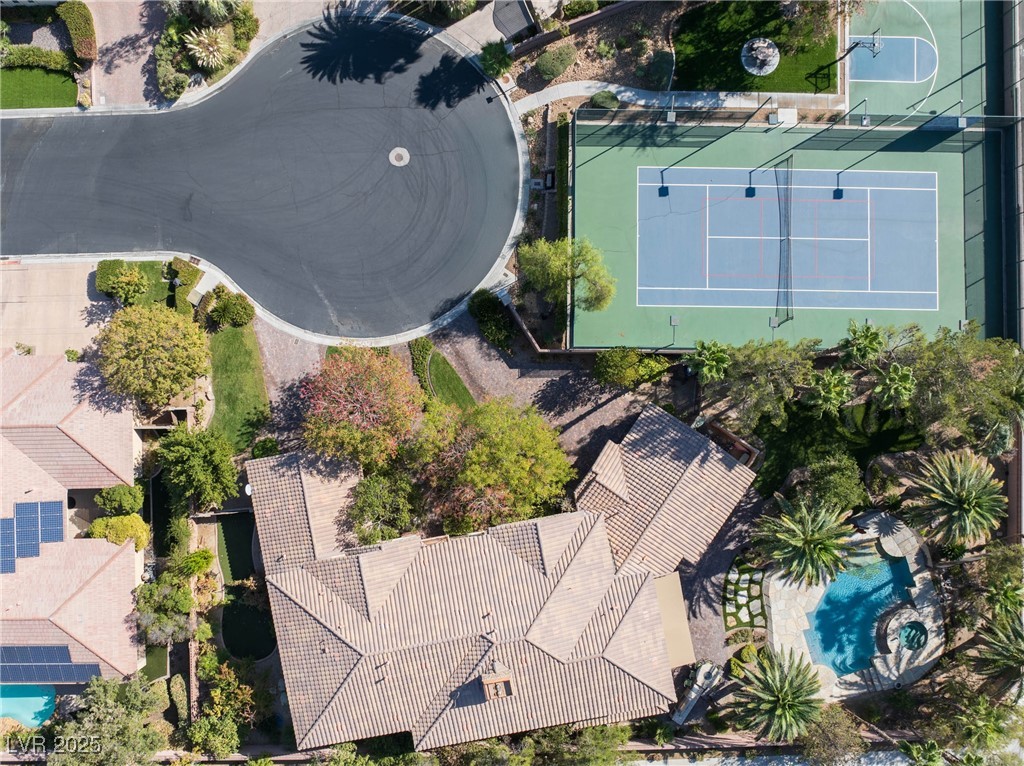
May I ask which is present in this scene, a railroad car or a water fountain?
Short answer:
water fountain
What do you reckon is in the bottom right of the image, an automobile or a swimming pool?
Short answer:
swimming pool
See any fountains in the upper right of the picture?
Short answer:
Yes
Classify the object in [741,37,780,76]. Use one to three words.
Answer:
fountain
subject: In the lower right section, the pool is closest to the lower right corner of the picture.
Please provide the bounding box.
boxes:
[766,507,949,701]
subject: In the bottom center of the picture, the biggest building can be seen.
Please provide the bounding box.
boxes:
[246,400,757,753]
